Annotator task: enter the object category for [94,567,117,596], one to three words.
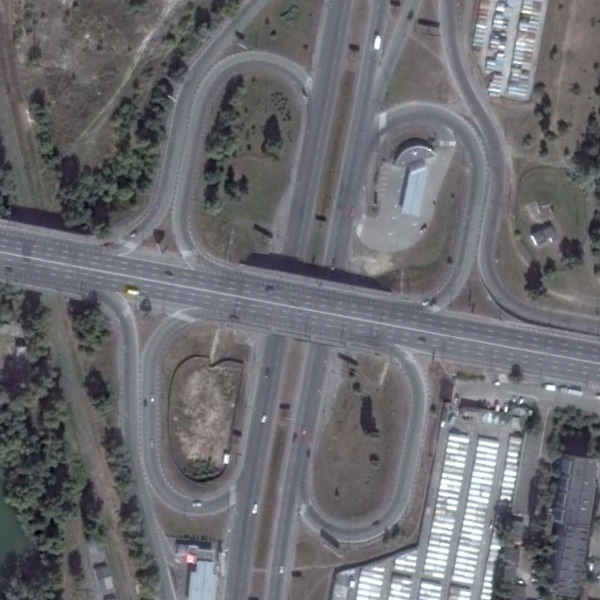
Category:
shed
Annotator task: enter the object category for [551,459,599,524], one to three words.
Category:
building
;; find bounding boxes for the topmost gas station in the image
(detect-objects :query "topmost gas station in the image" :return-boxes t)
[396,146,436,217]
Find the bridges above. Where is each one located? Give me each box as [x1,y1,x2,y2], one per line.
[0,219,600,385]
